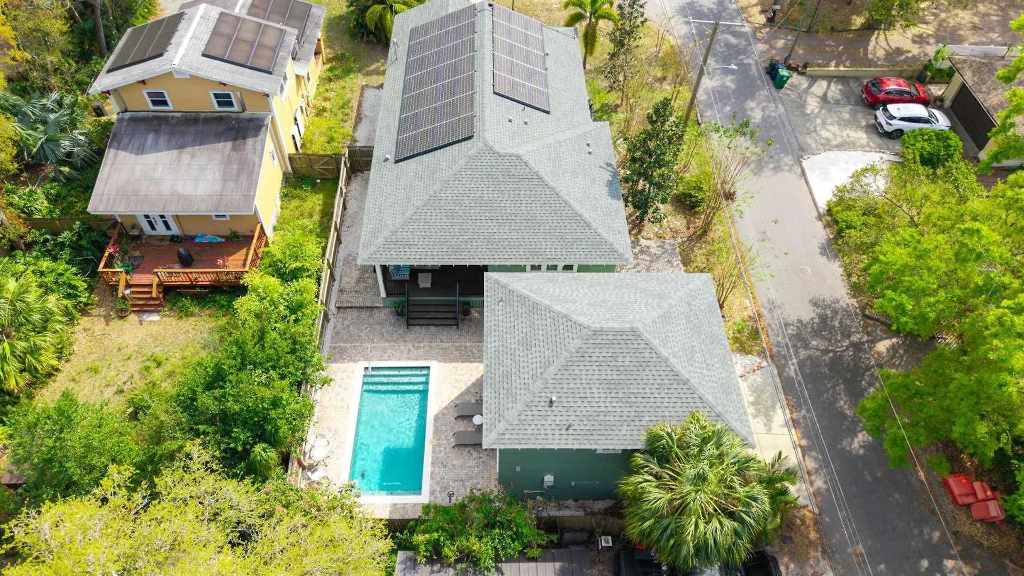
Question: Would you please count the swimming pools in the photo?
1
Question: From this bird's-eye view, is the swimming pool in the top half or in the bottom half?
bottom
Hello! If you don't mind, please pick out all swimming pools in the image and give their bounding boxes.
[337,361,437,502]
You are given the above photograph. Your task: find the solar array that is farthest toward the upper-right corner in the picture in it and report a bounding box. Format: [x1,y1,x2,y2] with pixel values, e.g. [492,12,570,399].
[493,3,552,114]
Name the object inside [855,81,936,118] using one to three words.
car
